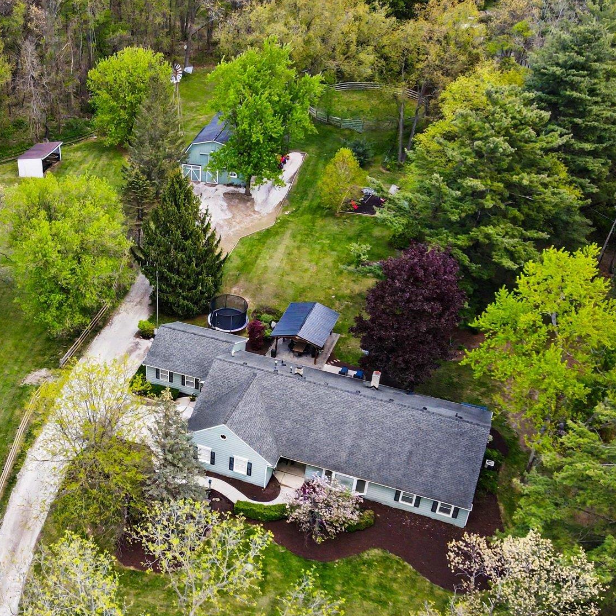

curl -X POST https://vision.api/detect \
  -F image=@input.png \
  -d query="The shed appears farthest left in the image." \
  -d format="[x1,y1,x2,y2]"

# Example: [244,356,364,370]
[15,141,57,178]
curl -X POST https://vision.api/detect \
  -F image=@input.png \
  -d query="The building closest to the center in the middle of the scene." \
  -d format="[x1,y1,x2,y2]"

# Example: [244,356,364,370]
[268,298,341,368]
